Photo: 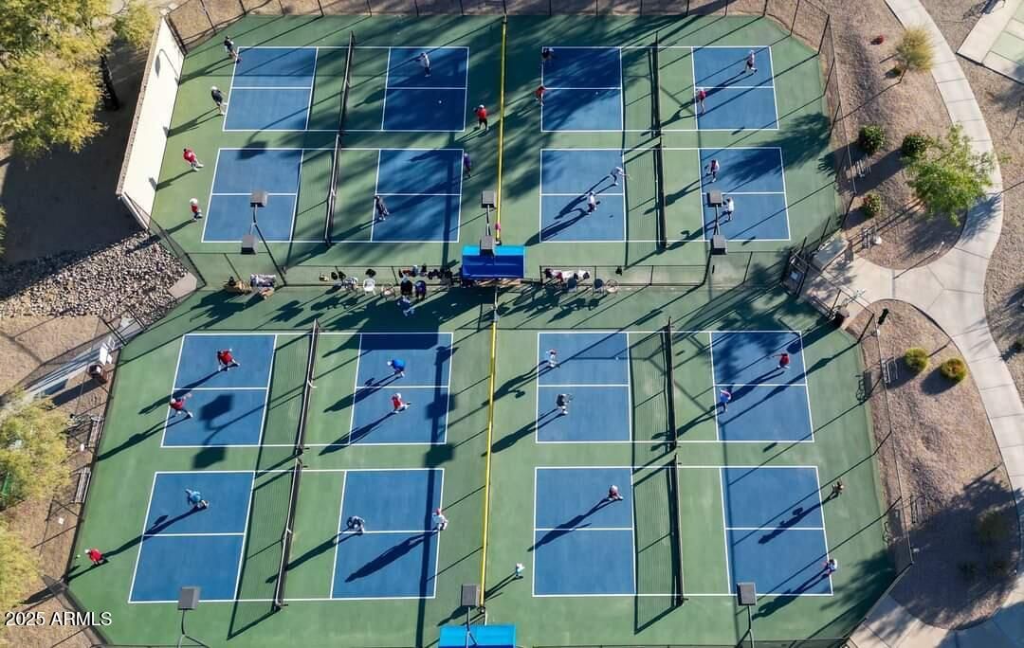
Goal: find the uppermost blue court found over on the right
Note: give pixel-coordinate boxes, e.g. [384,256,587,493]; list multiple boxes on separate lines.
[536,44,784,134]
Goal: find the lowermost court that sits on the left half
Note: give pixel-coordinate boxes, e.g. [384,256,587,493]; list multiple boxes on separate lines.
[123,463,450,609]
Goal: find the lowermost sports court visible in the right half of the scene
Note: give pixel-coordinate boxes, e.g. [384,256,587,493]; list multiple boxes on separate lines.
[526,460,838,604]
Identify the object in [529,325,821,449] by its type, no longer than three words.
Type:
sports court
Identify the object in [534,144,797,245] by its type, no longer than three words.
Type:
sports court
